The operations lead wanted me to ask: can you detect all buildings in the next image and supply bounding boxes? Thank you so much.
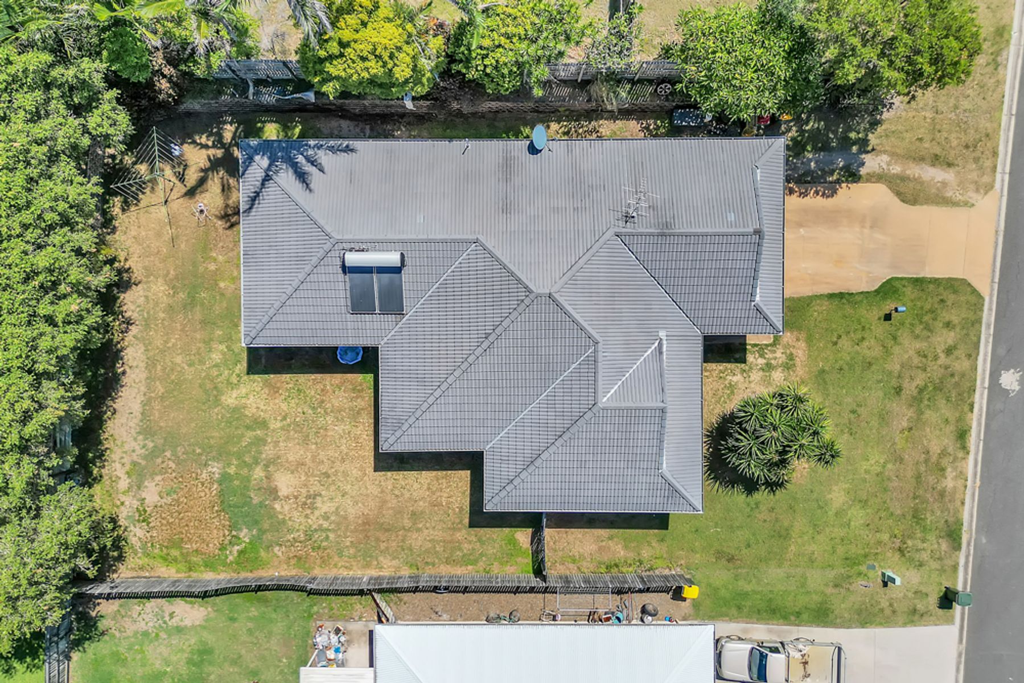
[240,137,785,513]
[372,616,717,683]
